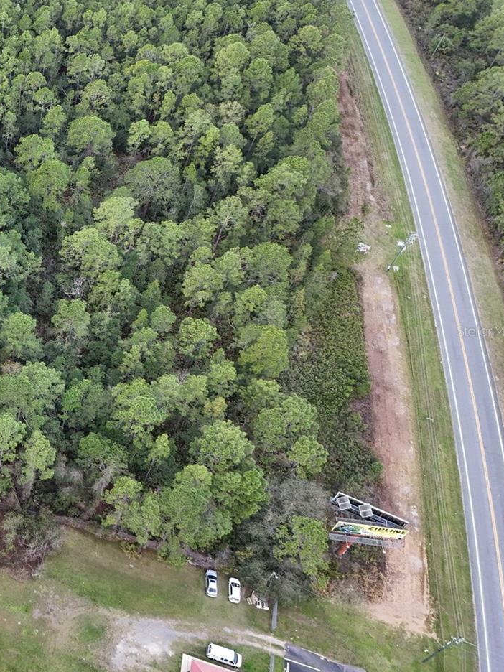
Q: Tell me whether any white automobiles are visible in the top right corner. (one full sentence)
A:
No, in the top right corner there is no white automobile.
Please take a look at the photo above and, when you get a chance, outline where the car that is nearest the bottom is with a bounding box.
[204,643,244,669]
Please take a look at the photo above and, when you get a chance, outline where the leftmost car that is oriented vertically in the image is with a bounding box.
[203,569,219,600]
